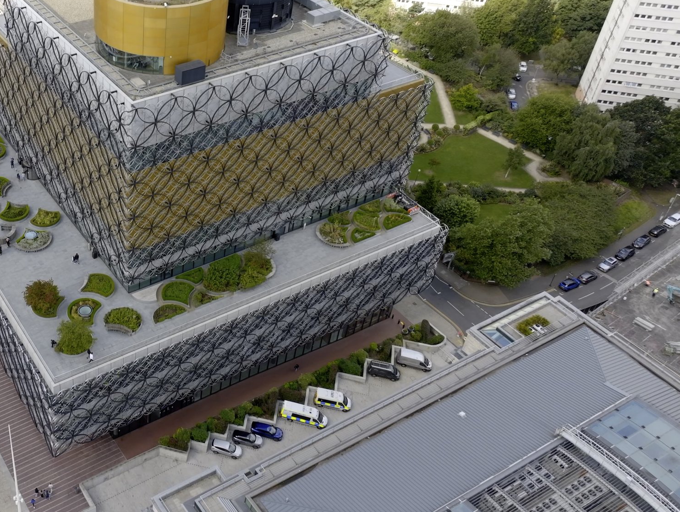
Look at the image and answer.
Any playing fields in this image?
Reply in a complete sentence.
Yes, there's a playing field here.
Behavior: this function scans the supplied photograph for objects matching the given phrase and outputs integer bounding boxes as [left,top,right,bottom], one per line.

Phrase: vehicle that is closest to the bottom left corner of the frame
[210,436,243,459]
